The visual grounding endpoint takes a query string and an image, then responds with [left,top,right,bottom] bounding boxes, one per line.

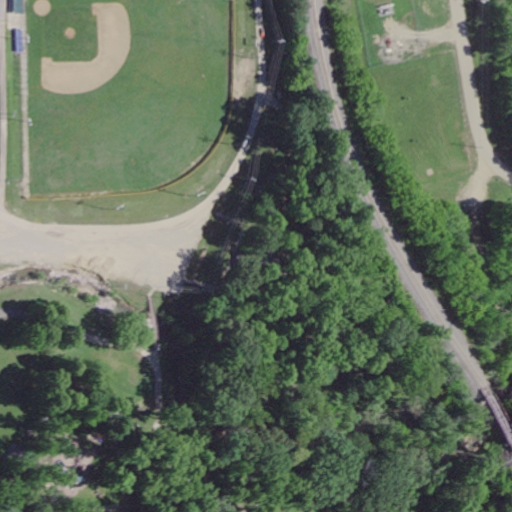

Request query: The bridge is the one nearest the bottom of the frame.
[476,384,512,446]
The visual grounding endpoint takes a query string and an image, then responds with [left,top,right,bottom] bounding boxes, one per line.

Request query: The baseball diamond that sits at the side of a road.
[20,0,233,199]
